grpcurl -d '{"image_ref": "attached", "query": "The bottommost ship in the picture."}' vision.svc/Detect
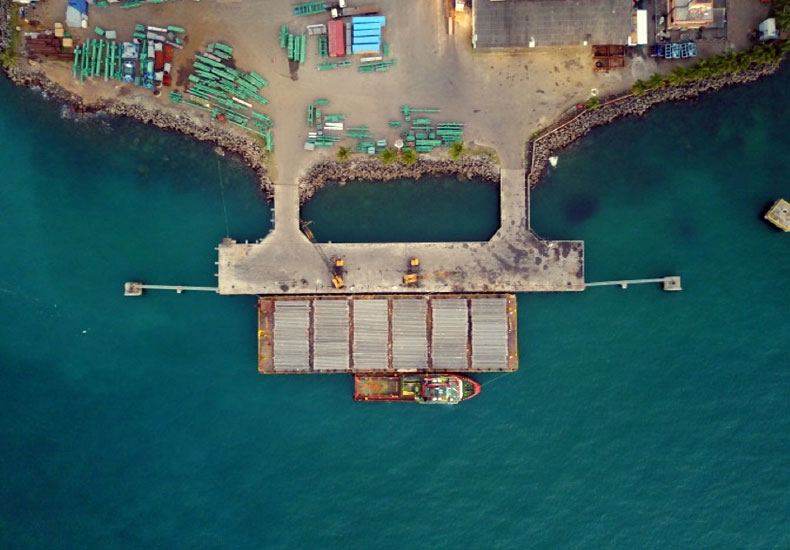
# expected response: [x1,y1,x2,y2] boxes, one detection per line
[354,373,481,405]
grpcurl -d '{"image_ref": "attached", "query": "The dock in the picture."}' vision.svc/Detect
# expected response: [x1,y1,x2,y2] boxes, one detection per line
[214,168,585,294]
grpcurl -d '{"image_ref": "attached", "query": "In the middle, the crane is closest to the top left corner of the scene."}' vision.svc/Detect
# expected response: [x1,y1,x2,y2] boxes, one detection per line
[302,223,349,291]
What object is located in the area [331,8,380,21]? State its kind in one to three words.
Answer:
vehicle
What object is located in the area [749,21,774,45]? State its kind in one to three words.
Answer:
truck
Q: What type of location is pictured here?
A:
port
